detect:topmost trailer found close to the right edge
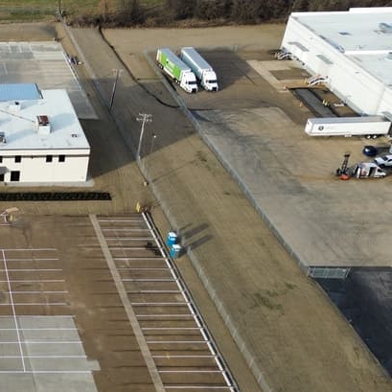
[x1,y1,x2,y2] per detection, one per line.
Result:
[299,115,388,140]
